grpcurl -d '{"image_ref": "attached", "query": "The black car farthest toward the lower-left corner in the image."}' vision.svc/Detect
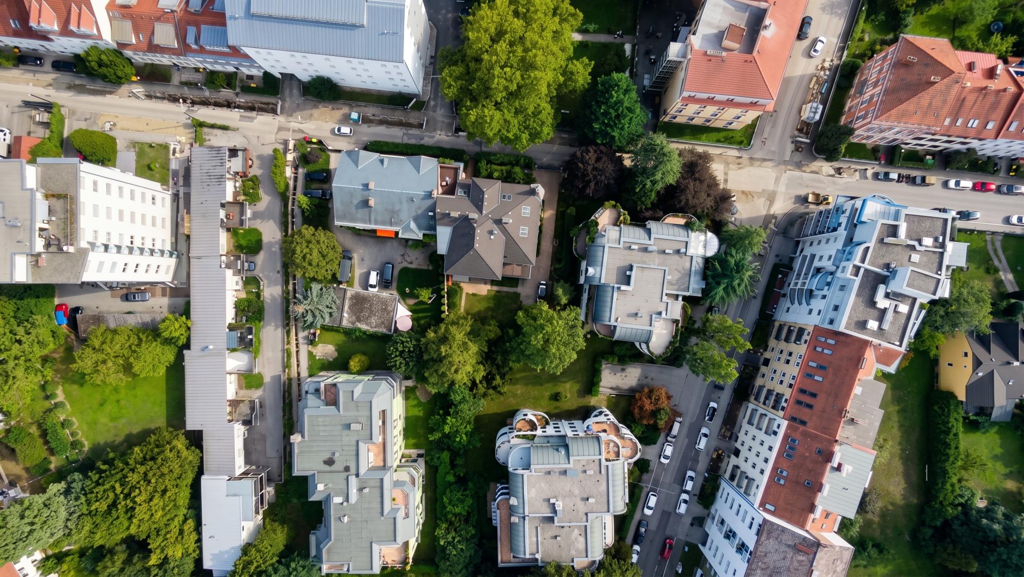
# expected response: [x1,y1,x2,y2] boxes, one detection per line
[72,306,85,330]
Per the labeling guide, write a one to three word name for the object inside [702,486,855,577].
building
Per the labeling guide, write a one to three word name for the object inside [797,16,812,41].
car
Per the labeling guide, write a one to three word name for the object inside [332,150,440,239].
house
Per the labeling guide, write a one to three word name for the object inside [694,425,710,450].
car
